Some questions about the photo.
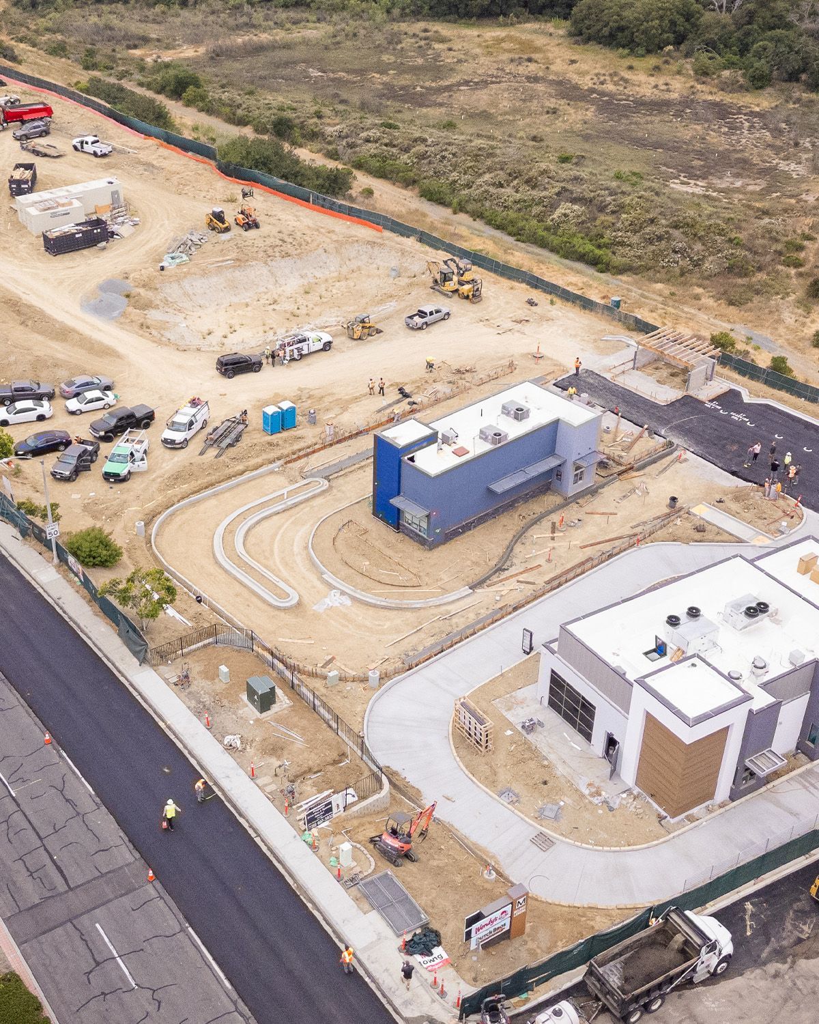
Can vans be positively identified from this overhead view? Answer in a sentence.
Yes, the image includes a van.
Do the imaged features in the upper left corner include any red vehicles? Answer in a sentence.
Yes, looking in the upper left corner, one can make out a red vehicle.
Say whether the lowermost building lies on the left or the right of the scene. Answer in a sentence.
The lowermost building is on the right side of the image.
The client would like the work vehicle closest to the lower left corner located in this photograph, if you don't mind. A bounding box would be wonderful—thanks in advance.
[367,795,436,867]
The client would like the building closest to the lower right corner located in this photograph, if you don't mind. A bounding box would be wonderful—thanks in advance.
[535,533,819,821]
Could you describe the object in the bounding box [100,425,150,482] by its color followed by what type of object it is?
white truck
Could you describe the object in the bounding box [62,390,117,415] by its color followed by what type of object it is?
white car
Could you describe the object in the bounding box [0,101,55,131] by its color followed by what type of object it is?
red truck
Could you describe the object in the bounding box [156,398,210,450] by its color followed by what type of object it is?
white van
